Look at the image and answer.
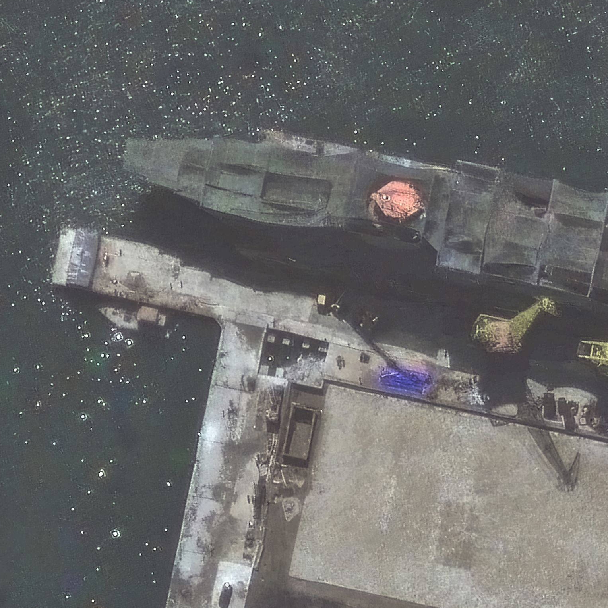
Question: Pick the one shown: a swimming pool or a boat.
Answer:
boat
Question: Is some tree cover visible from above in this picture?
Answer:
No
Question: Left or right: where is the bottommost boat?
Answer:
left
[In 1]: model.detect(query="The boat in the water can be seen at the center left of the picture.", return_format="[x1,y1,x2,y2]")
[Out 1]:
[99,305,167,330]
